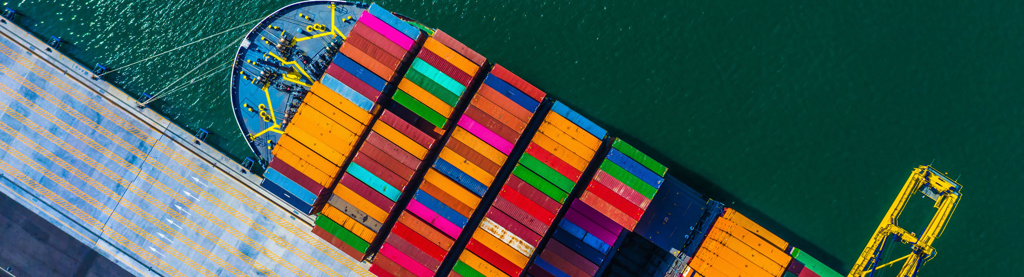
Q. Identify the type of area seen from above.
port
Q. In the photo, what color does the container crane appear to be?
yellow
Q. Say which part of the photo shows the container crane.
bottom right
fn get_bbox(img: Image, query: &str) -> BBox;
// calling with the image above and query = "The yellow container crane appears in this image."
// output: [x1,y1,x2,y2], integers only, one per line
[848,161,967,277]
